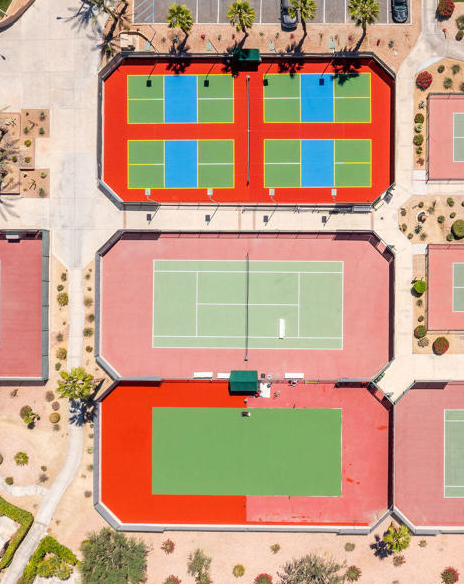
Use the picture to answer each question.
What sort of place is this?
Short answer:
sports ground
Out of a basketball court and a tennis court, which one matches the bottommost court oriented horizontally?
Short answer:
tennis court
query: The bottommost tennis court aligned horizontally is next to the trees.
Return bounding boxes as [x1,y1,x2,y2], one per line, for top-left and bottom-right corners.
[100,380,392,525]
